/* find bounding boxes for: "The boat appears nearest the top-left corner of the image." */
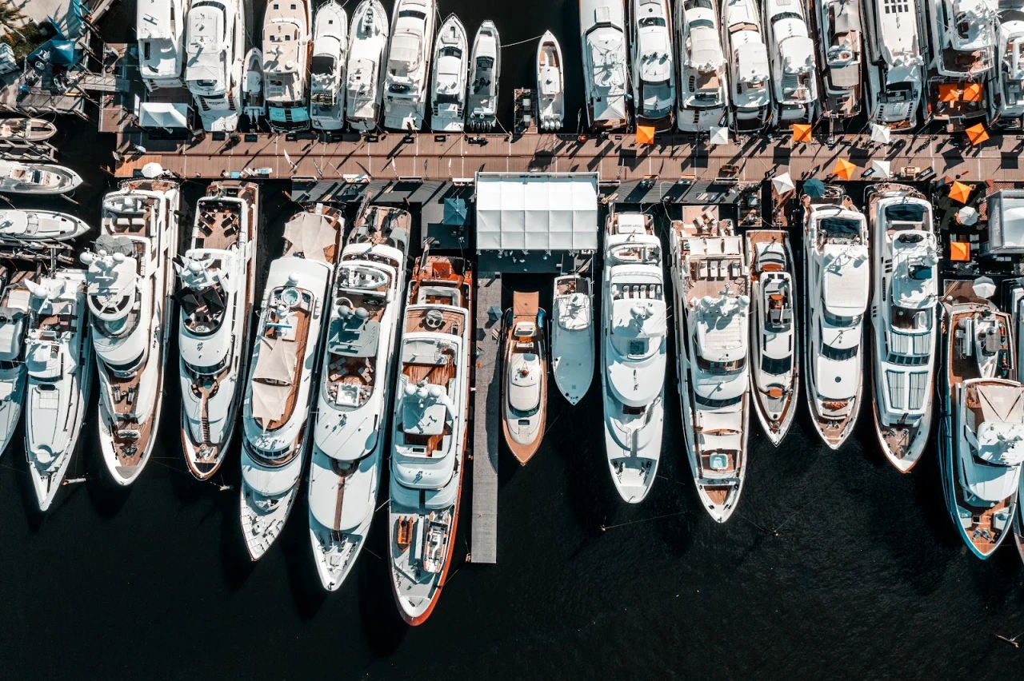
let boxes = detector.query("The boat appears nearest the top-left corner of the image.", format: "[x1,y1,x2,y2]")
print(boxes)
[0,119,58,143]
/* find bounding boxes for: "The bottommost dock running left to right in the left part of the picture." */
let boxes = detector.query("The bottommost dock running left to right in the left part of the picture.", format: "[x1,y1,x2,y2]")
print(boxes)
[292,178,477,250]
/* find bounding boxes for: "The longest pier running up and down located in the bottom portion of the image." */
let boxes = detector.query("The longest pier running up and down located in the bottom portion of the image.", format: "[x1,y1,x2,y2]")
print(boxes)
[471,273,502,564]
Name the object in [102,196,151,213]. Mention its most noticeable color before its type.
white boat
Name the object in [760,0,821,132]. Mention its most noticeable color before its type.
white boat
